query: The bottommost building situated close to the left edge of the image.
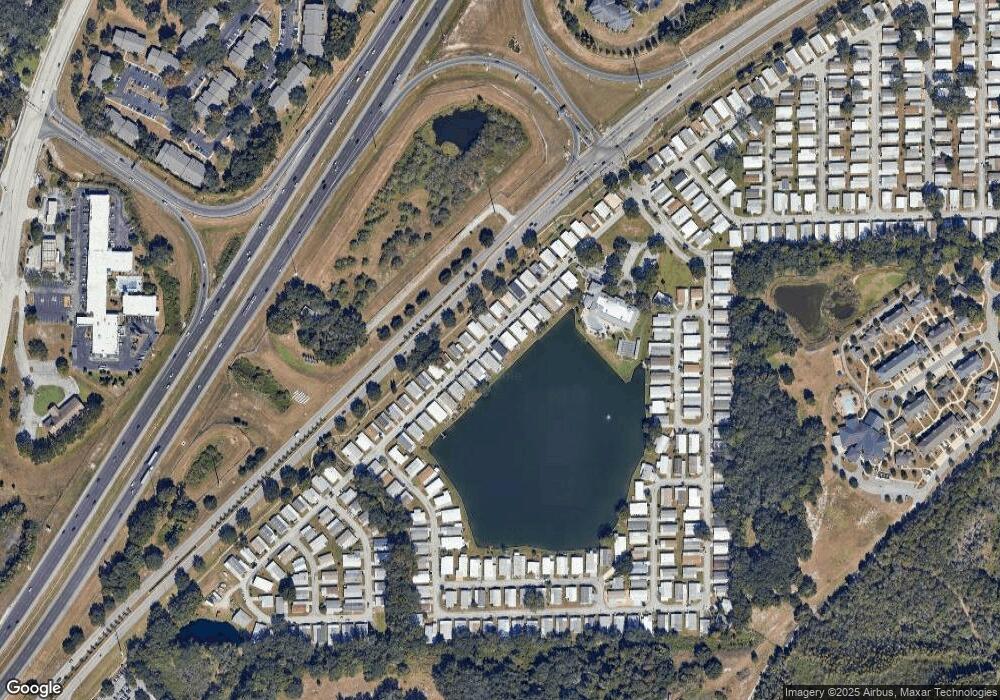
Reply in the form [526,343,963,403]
[43,394,85,434]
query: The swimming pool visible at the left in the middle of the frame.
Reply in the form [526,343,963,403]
[117,276,141,293]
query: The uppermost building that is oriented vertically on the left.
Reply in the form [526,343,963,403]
[302,2,326,56]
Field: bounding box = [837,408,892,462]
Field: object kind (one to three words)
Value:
building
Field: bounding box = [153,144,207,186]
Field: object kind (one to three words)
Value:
building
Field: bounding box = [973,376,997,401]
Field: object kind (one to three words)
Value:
house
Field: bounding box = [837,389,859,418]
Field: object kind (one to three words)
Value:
swimming pool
